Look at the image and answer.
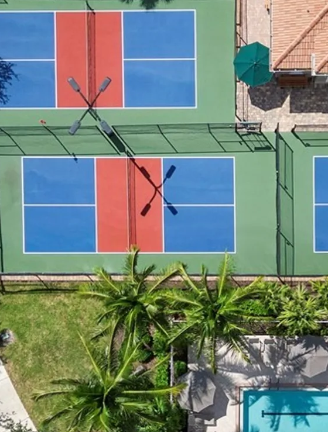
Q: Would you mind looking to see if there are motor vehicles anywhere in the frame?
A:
No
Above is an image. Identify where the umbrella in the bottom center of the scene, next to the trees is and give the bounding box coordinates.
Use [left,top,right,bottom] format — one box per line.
[176,368,218,410]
